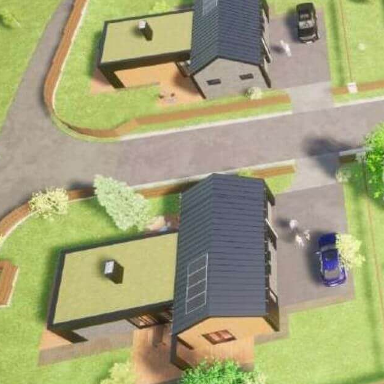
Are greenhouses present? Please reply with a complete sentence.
No, I find no greenhouse anywhere in the image.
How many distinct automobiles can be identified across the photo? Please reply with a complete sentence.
I count 2 automobiles.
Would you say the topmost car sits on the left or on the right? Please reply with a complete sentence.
The topmost car appears in the right half of the scene.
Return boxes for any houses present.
[85,0,275,106]
[37,171,290,384]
